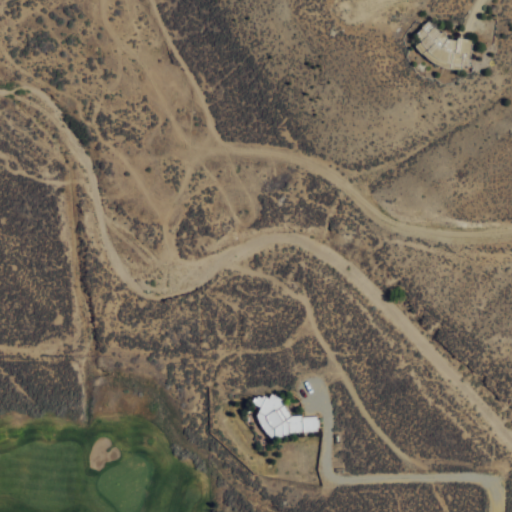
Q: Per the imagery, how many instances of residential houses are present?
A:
2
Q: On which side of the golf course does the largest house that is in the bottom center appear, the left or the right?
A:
right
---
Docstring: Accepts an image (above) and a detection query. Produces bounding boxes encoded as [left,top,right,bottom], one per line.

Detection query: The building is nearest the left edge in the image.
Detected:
[253,394,320,438]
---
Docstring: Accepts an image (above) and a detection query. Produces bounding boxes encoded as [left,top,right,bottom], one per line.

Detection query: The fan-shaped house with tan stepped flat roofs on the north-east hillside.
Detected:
[416,21,474,69]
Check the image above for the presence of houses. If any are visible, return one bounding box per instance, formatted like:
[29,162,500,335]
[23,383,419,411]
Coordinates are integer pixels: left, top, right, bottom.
[253,394,320,438]
[416,21,474,69]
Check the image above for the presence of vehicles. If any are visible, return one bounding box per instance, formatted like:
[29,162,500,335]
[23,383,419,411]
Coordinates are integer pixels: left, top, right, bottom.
[305,382,314,394]
[300,388,306,398]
